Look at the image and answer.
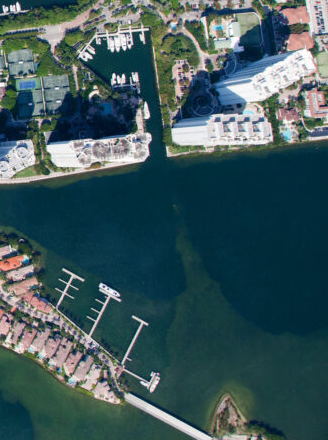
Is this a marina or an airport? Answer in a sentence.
This image shows a marina.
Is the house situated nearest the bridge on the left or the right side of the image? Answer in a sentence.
The house situated nearest the bridge sits on the left side.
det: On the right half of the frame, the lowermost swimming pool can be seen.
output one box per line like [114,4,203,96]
[281,123,295,141]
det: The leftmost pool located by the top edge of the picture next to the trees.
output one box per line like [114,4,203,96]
[210,18,227,40]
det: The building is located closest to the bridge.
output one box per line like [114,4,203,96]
[88,379,122,405]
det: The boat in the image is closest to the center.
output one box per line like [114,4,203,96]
[99,283,121,296]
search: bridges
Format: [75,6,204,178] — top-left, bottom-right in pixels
[121,393,214,440]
